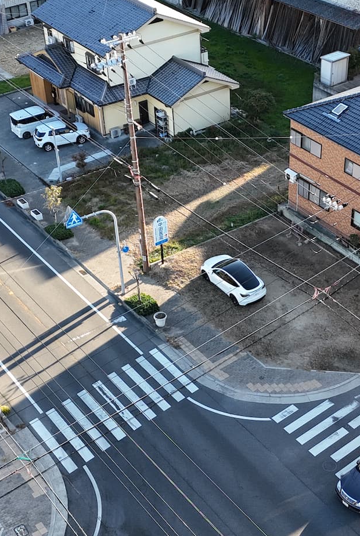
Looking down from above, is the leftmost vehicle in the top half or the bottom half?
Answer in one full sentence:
Seen from above, the leftmost vehicle lies in the top half of the view.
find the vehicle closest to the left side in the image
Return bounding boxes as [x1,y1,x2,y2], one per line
[11,107,56,135]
